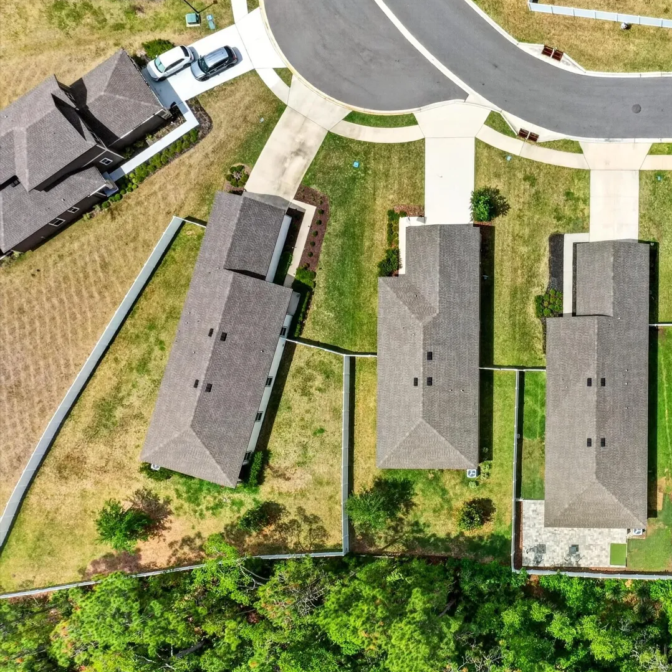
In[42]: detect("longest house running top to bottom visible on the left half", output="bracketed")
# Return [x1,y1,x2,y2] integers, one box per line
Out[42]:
[140,190,300,489]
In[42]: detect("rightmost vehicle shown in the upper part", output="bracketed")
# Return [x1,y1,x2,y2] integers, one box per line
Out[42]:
[192,44,240,83]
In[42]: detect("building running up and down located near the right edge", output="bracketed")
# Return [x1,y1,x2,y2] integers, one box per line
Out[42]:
[545,241,649,529]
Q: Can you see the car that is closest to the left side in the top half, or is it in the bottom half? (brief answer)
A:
top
